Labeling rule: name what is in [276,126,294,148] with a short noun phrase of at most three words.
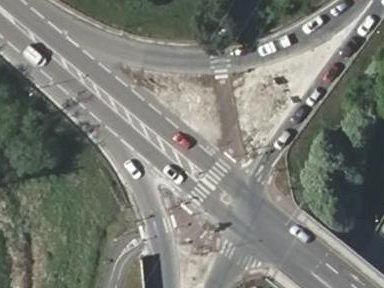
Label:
car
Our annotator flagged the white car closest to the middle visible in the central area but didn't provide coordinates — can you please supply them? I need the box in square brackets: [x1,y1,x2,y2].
[163,165,184,184]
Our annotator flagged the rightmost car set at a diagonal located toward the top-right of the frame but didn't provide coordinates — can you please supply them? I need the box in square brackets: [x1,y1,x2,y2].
[358,13,378,34]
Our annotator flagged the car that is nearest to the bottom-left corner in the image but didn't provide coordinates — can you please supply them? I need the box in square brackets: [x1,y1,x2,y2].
[124,160,142,180]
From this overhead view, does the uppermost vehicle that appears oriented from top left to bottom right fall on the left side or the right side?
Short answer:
left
